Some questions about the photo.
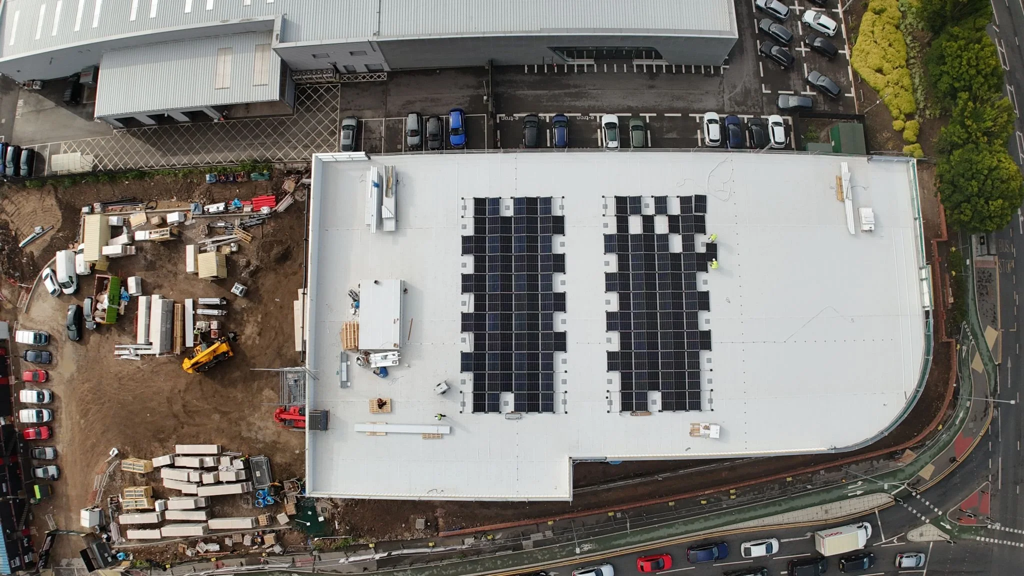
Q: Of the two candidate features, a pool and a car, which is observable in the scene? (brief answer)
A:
car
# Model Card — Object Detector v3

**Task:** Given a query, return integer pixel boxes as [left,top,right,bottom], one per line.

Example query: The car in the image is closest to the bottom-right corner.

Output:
[893,551,924,569]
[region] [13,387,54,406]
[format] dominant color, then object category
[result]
white vehicle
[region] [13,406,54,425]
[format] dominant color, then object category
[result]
white vehicle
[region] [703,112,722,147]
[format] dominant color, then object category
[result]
white car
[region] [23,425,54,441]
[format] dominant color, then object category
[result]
red car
